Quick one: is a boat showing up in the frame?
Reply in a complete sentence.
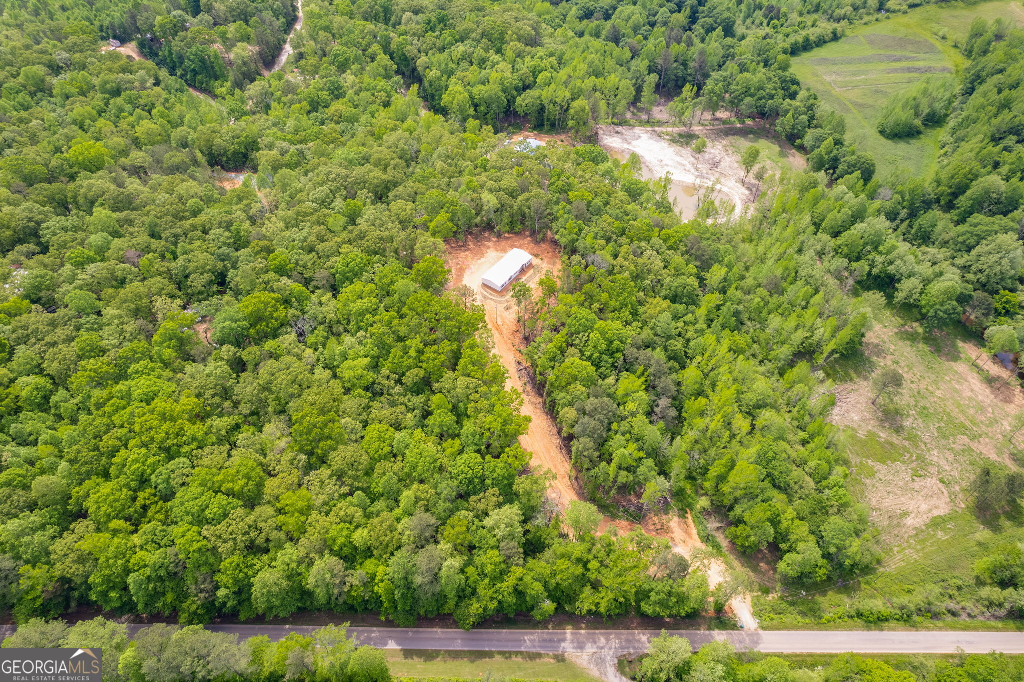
No, I can't see a single boat in this photo.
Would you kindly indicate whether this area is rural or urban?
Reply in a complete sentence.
The area shown here is rural.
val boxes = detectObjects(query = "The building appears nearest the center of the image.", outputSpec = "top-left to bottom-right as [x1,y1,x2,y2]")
[481,248,533,292]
